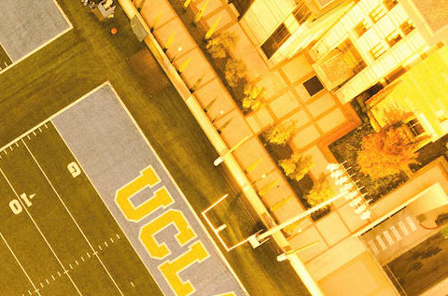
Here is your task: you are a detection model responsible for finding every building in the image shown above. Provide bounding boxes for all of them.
[218,0,448,105]
[346,42,448,150]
